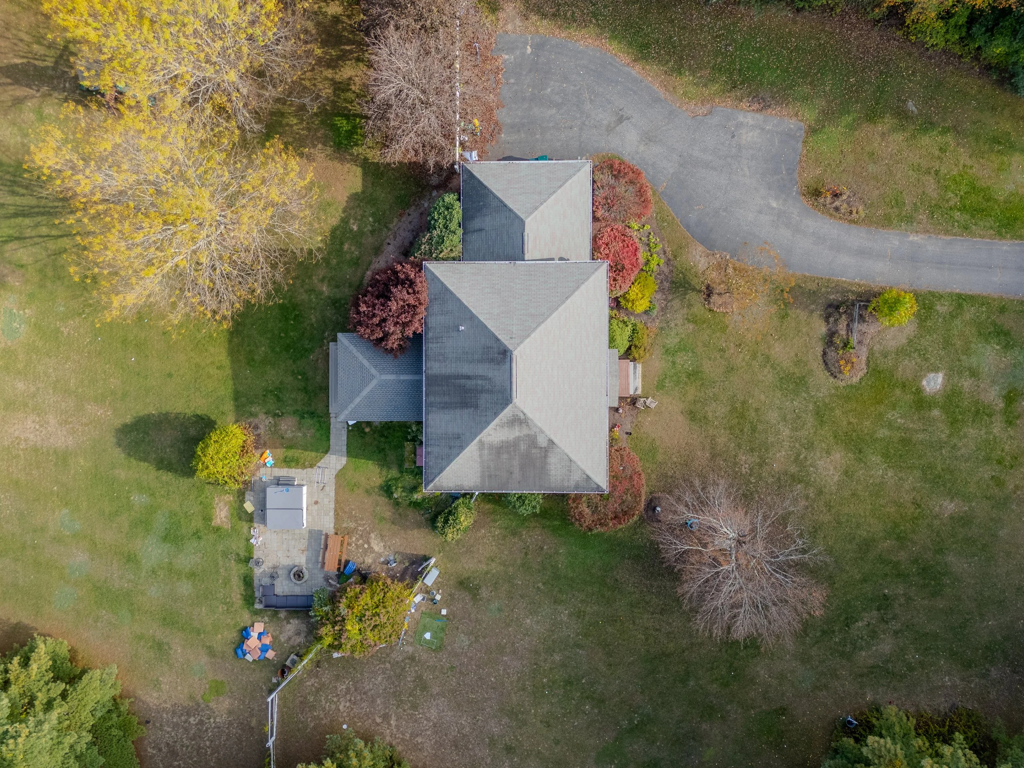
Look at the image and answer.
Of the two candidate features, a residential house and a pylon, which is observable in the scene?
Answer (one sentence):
The image shows a residential house.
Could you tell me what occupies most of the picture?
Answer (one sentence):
The bulk of the photo consists of grass.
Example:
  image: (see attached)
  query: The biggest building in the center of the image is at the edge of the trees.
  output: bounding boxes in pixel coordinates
[329,161,642,504]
